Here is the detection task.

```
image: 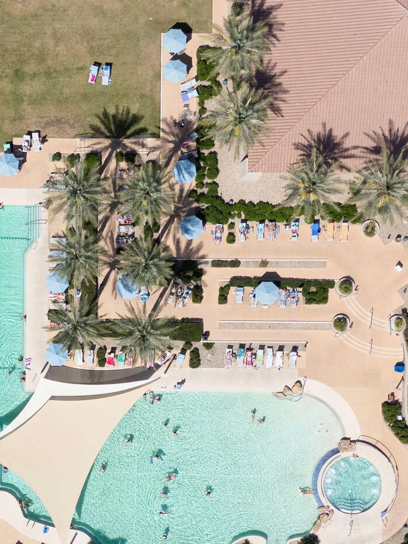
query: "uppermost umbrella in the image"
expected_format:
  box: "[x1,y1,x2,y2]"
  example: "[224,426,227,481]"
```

[163,29,187,53]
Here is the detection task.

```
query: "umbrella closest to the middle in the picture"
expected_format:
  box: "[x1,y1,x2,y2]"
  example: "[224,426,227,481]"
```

[179,215,203,239]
